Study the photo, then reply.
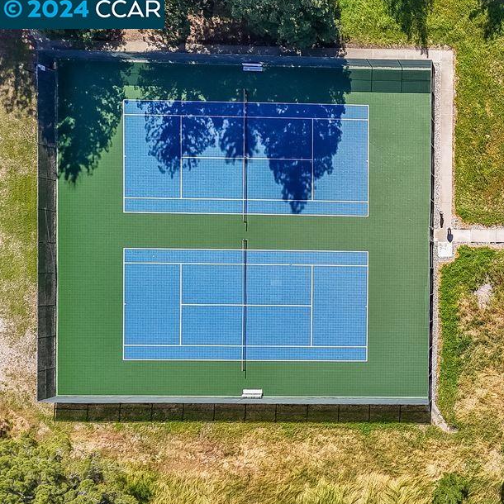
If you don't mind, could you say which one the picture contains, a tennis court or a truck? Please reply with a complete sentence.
There is a tennis court in the scene.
